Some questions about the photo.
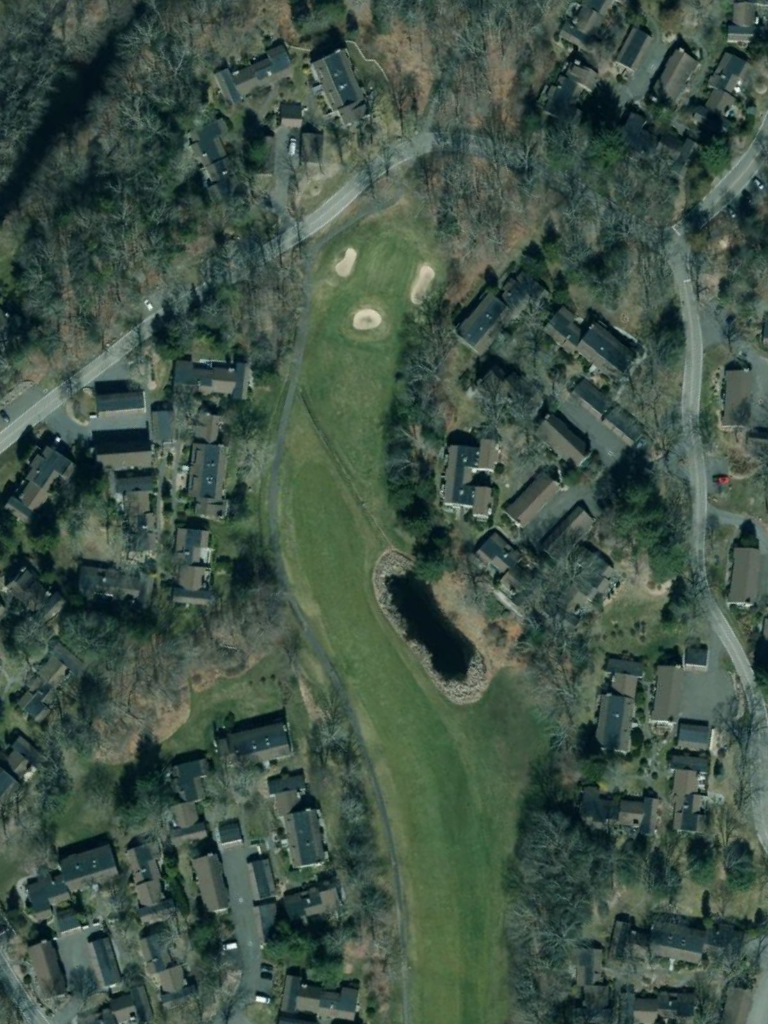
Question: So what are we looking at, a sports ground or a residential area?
residential area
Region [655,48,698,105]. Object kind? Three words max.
house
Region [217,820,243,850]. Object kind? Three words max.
building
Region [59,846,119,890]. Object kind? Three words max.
house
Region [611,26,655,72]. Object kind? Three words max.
building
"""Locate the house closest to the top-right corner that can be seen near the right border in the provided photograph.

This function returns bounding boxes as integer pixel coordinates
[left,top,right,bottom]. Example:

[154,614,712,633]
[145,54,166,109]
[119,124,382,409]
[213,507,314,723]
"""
[727,0,758,43]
